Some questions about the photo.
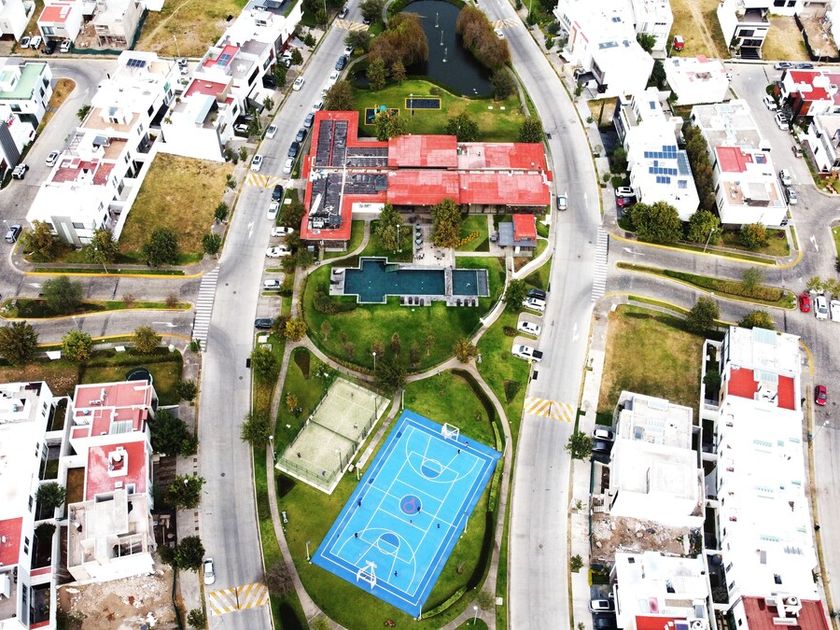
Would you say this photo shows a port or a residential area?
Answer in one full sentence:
It's a residential area.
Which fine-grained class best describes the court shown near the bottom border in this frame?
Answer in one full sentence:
The court shown near the bottom border is a basketball court.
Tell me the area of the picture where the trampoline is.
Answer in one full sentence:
Look in the left portion of the view to spot the trampoline.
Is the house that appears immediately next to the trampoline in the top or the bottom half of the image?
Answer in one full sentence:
Seen from above, the house that appears immediately next to the trampoline lies in the bottom half of the view.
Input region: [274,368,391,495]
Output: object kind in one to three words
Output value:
sports court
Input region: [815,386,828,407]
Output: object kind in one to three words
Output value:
vehicle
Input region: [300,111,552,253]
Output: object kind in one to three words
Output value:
building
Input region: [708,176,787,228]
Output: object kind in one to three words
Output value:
house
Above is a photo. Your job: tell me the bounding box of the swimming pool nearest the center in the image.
[330,256,490,306]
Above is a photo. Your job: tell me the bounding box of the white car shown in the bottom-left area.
[202,557,216,587]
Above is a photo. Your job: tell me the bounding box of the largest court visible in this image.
[311,409,496,619]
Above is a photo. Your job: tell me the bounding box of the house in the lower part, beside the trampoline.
[70,381,161,456]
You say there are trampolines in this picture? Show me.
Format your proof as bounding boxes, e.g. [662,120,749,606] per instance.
[121,358,149,381]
